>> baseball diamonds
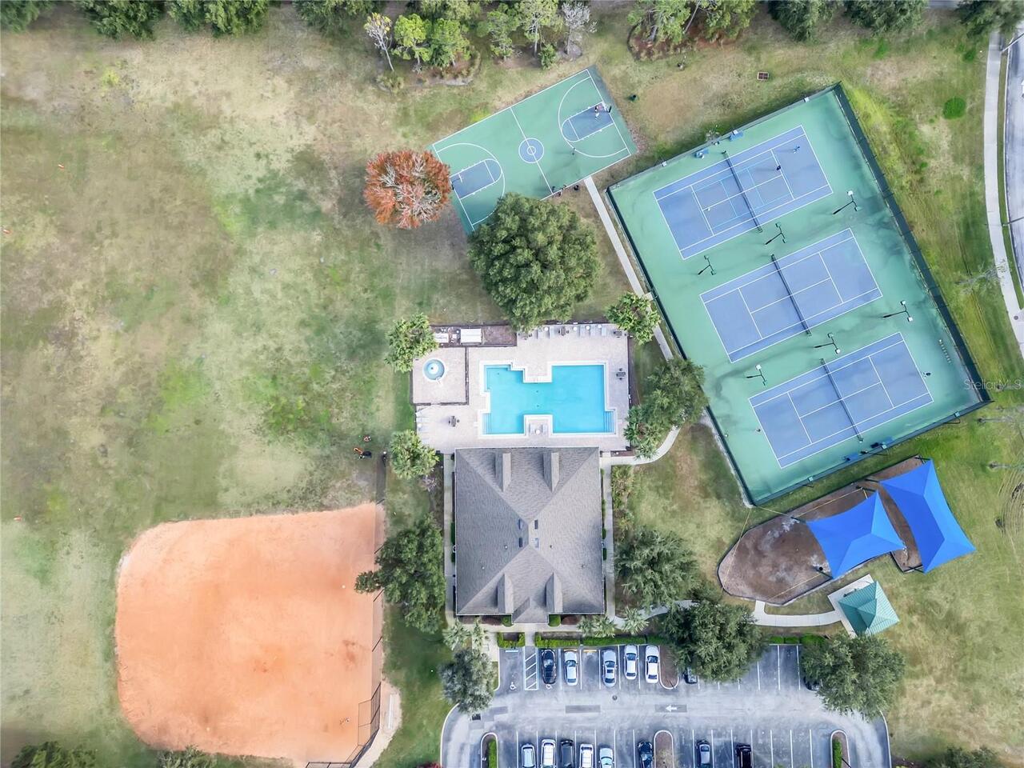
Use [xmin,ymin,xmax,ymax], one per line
[116,502,386,768]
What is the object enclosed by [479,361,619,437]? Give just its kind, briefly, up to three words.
swimming pool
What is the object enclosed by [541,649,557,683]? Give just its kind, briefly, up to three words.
car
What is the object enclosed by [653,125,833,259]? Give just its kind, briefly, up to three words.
tennis court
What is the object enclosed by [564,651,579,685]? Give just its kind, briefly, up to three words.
car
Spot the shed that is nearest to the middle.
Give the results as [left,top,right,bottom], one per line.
[460,328,482,343]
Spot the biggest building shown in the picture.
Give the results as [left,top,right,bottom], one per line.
[454,447,605,624]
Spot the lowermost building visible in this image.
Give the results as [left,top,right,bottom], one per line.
[835,580,900,636]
